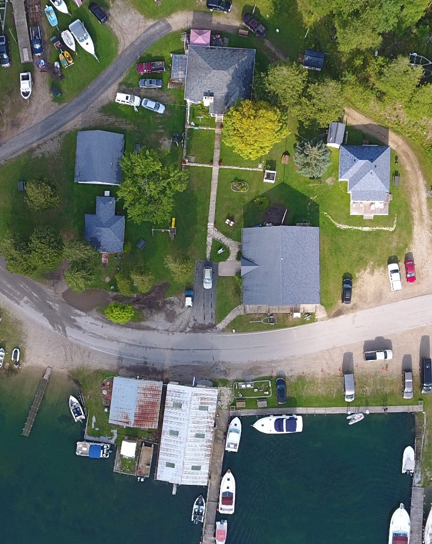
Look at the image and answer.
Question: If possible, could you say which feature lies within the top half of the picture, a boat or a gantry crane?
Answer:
boat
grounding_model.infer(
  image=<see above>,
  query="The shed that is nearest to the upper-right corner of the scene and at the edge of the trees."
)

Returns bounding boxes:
[303,51,325,71]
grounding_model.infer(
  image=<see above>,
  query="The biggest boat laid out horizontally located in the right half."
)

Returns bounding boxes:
[253,415,304,435]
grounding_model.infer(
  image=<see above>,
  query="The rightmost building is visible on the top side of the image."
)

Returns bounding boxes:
[338,145,393,219]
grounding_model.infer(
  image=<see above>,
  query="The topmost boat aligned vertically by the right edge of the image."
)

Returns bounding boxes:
[401,446,415,477]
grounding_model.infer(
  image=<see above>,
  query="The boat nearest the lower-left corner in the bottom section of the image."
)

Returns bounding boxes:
[77,442,111,459]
